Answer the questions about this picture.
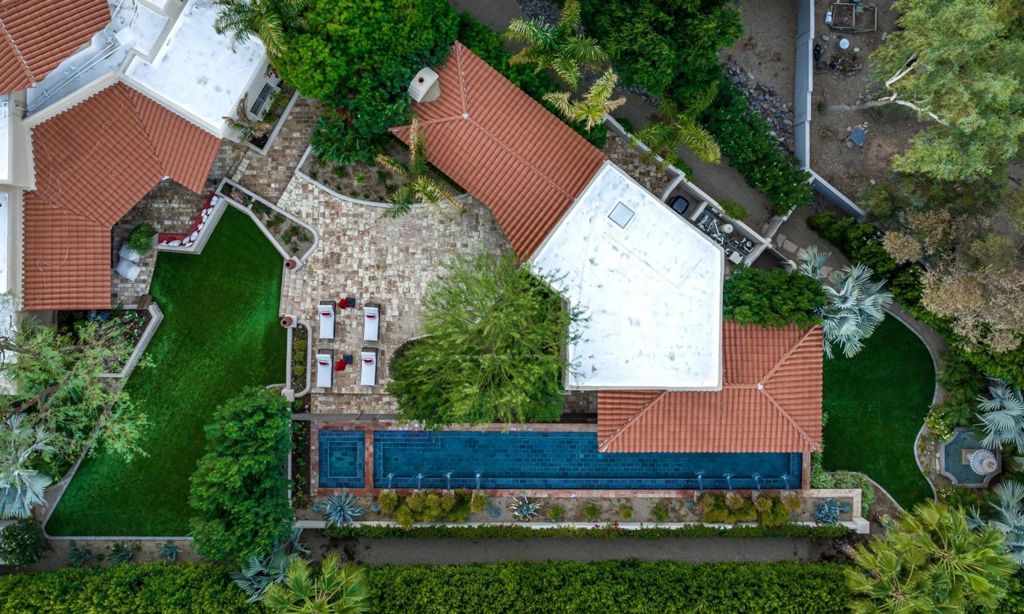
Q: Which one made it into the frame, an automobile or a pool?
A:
pool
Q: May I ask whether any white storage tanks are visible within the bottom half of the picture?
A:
No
